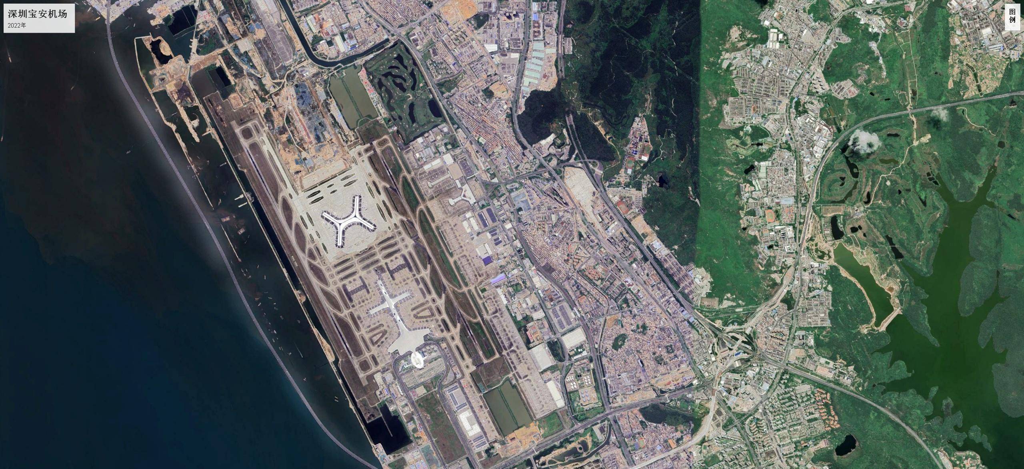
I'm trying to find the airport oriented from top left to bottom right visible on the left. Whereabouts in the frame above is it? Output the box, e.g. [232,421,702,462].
[204,92,557,444]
